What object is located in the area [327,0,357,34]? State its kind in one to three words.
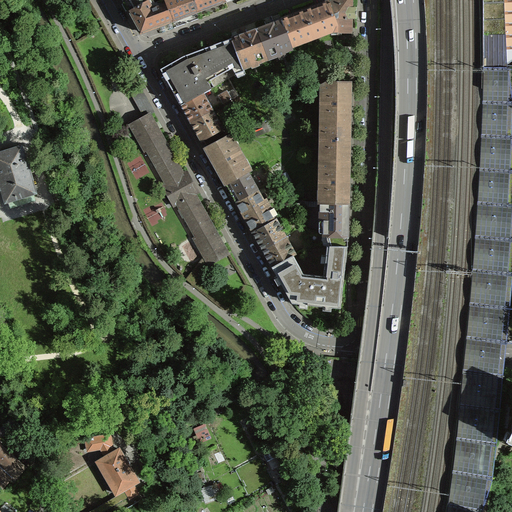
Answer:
house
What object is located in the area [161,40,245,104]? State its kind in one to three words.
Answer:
building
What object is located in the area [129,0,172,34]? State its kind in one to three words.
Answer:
house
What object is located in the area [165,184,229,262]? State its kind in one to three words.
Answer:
building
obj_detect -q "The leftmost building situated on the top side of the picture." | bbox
[0,146,36,208]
